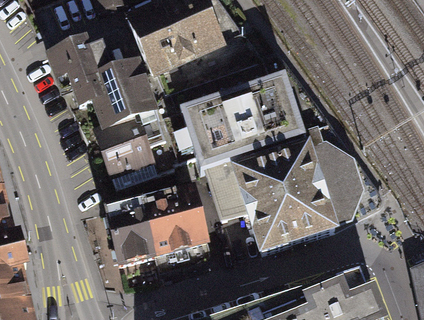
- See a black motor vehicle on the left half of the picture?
Yes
